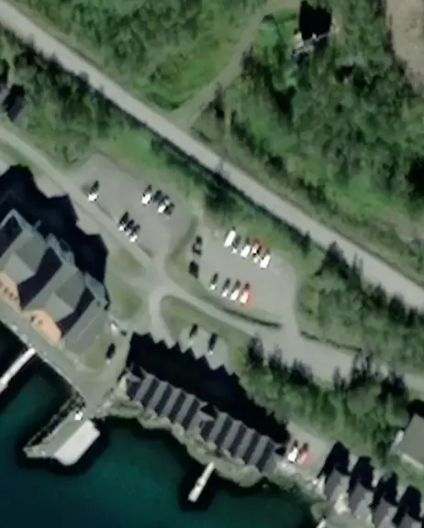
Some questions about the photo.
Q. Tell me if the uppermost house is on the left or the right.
right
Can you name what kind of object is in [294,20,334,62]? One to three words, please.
house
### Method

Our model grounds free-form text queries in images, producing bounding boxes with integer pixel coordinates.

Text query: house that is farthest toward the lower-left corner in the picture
[125,376,208,436]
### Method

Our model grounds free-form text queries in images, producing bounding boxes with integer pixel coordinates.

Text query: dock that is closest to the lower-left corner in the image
[55,423,100,465]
